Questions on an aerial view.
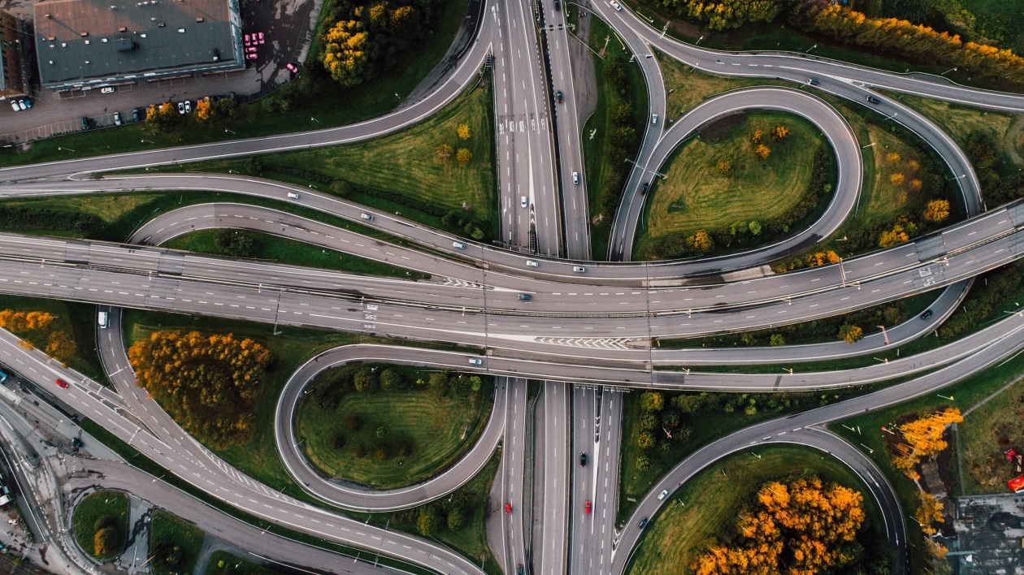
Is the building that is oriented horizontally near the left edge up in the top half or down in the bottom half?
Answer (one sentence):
The building that is oriented horizontally near the left edge is in the top half of the image.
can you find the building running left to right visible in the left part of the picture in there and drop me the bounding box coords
[28,0,251,92]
